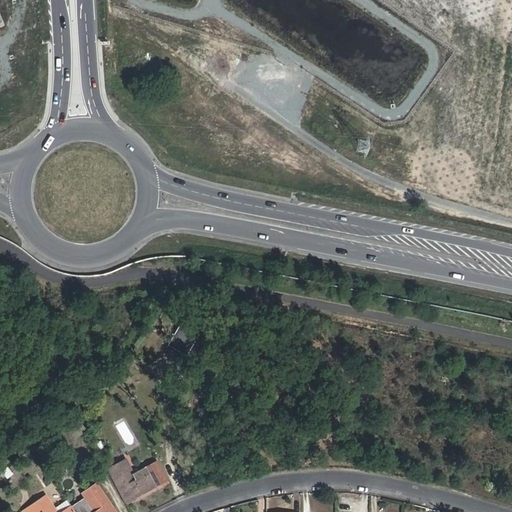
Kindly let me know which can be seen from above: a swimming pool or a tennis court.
swimming pool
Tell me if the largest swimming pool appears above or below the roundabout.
below it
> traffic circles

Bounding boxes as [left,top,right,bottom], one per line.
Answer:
[0,118,159,269]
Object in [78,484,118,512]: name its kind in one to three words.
house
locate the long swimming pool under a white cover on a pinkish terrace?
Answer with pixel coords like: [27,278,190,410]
[114,418,140,454]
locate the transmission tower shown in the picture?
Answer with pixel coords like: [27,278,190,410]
[356,136,372,154]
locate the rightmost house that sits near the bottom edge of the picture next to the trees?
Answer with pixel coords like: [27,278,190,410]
[108,460,166,504]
